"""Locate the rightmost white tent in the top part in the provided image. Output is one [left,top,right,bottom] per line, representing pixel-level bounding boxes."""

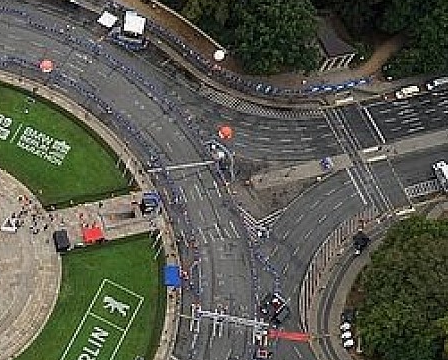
[122,14,145,35]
